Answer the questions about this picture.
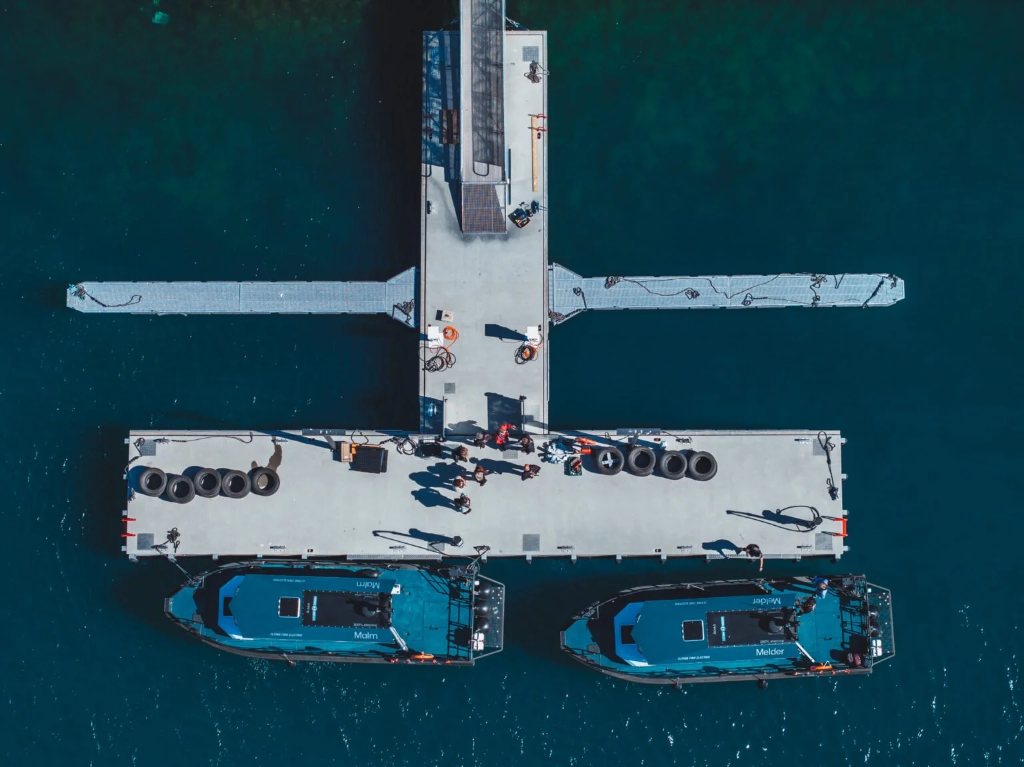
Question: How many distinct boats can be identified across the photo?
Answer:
2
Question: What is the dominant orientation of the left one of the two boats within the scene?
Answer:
from side to side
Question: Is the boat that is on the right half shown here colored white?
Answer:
No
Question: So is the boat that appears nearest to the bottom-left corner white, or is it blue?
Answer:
blue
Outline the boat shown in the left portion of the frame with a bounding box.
[164,559,505,667]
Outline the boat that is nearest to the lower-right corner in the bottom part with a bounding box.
[559,573,895,691]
